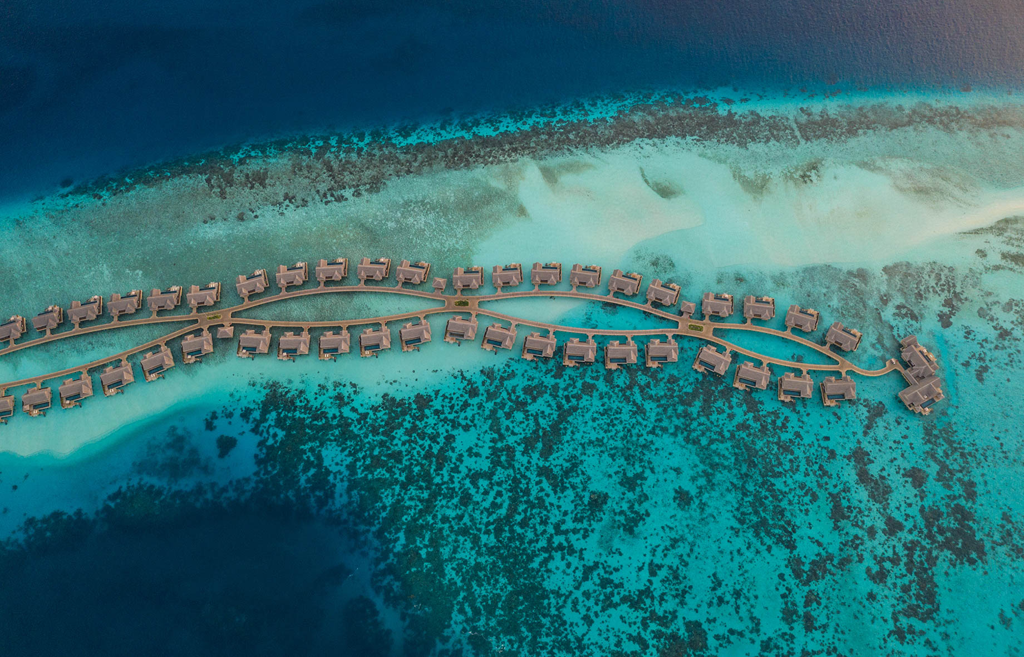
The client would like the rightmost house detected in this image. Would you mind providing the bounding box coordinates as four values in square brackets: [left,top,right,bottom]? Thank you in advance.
[889,335,949,419]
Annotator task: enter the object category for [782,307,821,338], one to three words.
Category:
house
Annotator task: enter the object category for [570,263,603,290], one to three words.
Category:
house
